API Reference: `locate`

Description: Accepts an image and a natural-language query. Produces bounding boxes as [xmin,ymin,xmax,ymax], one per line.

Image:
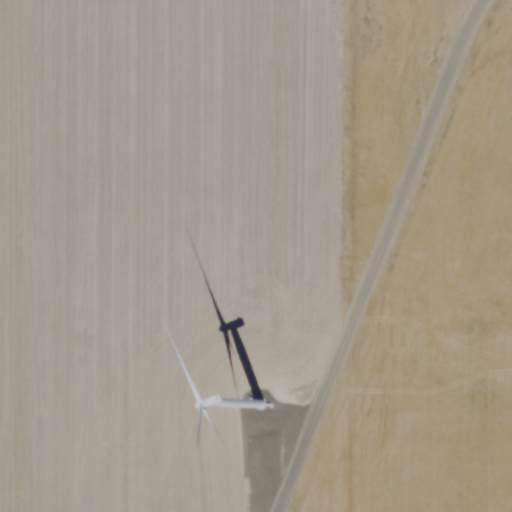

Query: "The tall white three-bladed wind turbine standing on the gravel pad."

[162,314,268,453]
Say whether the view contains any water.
No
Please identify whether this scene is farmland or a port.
farmland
